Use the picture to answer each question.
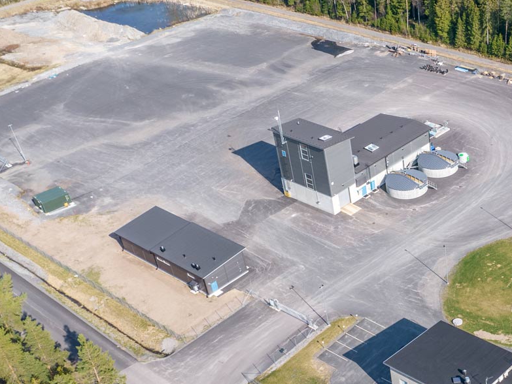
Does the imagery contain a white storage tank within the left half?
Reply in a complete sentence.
No, I can find no white storage tank within the left half.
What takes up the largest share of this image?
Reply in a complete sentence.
Most of the picture is covered by paved ground.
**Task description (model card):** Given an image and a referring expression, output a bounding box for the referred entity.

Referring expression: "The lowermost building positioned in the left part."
[109,205,249,297]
